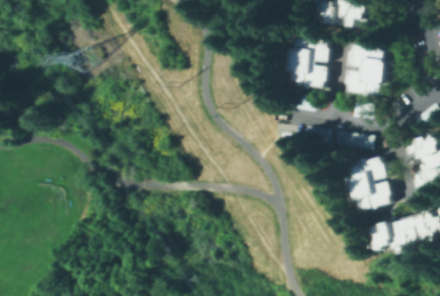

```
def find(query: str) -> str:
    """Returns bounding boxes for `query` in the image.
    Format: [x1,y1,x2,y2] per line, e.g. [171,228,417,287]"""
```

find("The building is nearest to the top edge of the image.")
[318,0,374,25]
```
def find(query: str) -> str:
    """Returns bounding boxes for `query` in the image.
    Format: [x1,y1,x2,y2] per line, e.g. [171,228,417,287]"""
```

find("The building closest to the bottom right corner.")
[369,213,440,252]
